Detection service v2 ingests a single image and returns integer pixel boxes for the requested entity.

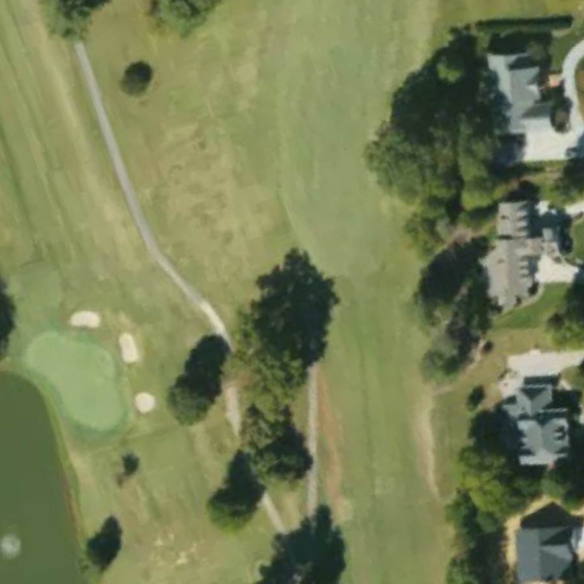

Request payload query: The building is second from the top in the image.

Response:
[486,200,557,313]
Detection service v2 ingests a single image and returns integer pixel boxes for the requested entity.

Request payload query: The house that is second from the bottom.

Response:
[504,385,572,467]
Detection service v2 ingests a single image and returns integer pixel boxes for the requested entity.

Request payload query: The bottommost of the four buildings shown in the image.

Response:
[516,527,583,584]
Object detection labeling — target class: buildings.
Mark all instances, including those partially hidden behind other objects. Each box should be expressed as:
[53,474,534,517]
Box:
[504,385,572,467]
[486,200,557,313]
[516,527,583,584]
[486,54,554,135]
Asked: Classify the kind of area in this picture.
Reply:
golf course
